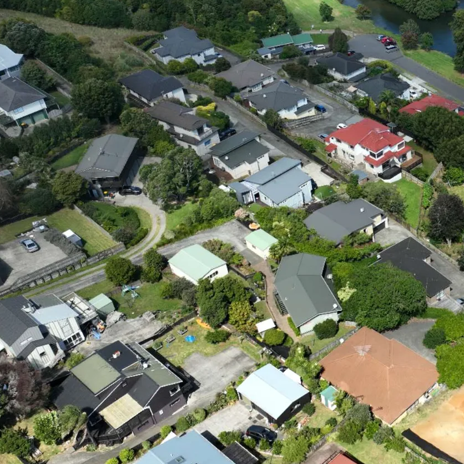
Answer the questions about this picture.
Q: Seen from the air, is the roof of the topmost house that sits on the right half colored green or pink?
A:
green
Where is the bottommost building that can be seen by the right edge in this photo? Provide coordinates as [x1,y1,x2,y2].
[320,331,442,431]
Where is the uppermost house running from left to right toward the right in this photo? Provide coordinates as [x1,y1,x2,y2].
[258,34,313,63]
